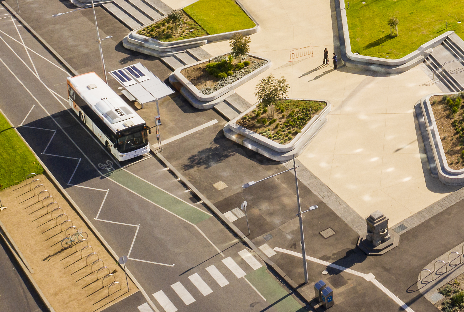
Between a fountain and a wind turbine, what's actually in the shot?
fountain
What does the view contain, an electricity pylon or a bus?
bus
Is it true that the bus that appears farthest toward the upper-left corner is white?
Yes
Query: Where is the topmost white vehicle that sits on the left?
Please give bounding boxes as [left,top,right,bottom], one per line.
[63,74,153,162]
